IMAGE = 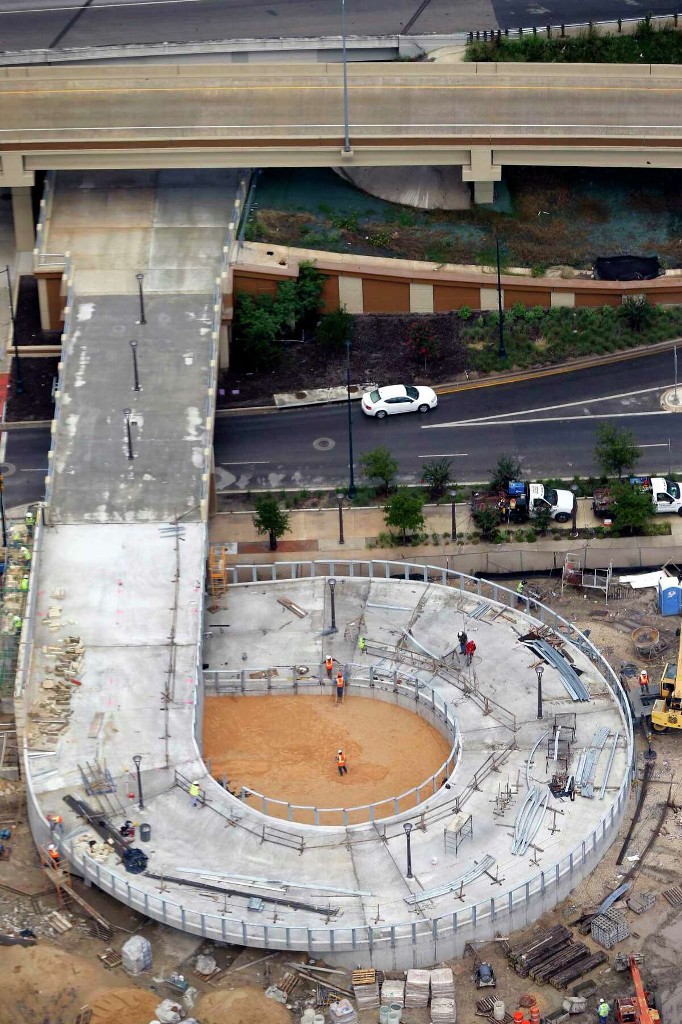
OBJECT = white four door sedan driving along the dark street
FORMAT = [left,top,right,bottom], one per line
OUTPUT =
[358,380,439,418]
